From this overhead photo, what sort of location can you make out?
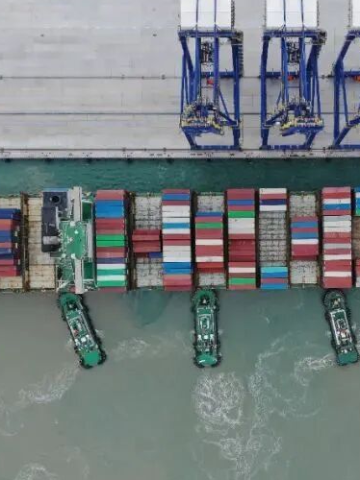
port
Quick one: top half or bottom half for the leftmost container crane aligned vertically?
top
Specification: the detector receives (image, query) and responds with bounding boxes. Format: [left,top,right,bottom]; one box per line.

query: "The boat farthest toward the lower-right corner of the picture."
[322,288,360,368]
